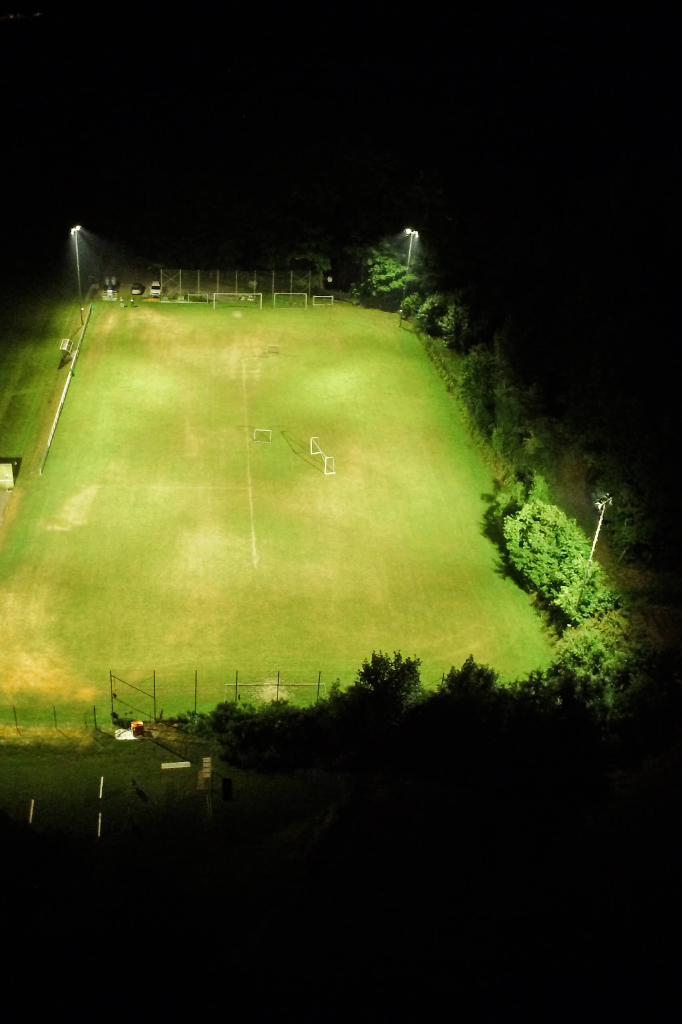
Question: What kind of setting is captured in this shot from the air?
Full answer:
It's a sports ground.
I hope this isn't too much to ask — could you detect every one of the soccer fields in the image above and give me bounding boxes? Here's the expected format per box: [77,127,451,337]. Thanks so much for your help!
[0,298,555,747]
